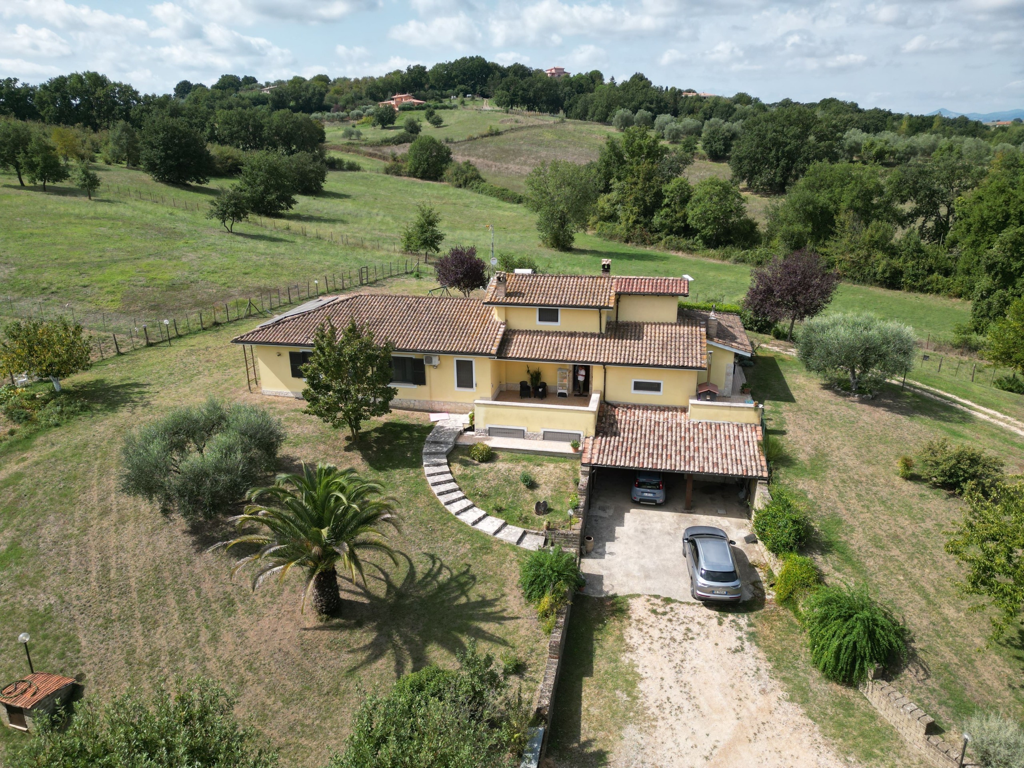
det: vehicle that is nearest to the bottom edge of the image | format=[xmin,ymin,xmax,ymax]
[685,531,746,608]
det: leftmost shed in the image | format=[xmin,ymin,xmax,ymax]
[0,670,70,738]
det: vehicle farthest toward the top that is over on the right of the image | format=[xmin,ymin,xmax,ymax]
[630,472,665,505]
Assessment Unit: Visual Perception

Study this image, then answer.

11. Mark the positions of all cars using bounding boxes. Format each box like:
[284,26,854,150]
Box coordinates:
[685,531,746,608]
[630,472,665,505]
